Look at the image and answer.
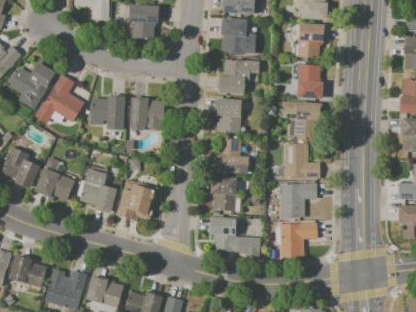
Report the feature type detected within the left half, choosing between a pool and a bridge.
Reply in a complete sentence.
Looking within the left half, you will find a pool.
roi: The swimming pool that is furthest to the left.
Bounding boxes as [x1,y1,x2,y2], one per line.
[22,123,54,151]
